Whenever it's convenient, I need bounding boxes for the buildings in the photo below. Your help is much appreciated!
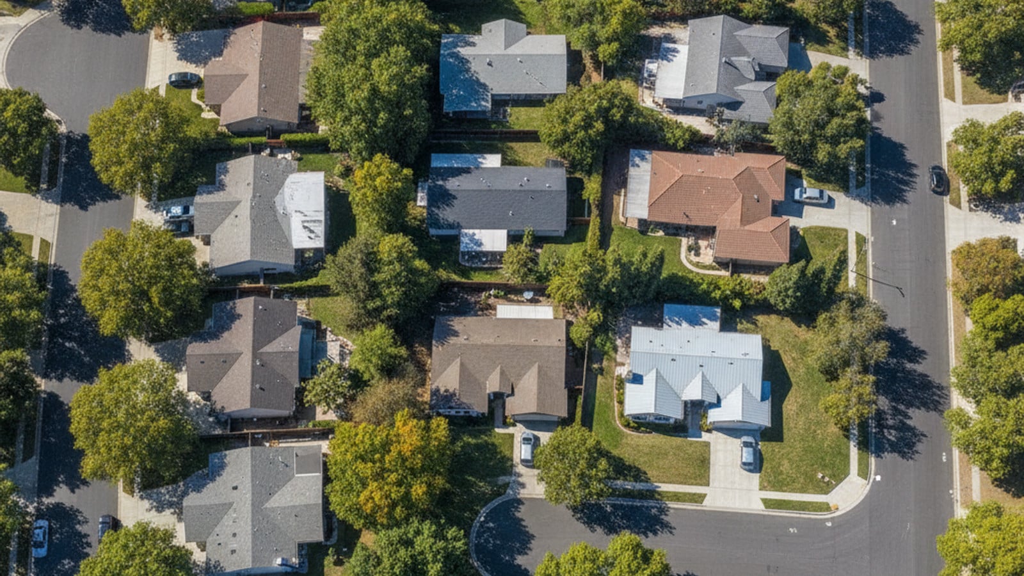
[654,15,788,126]
[439,18,567,115]
[179,445,324,572]
[624,149,790,267]
[201,19,315,131]
[430,304,567,421]
[417,153,567,257]
[624,304,772,427]
[190,155,326,273]
[182,296,340,423]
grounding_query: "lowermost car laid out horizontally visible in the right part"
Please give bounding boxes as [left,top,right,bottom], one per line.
[794,188,828,203]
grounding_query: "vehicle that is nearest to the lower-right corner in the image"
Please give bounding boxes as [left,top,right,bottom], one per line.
[739,435,756,471]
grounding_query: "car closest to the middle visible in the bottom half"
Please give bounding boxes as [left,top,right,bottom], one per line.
[518,431,535,467]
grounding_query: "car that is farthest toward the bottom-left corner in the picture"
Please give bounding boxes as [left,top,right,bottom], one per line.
[31,520,50,557]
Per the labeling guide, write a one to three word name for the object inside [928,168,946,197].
car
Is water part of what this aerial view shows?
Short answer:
No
